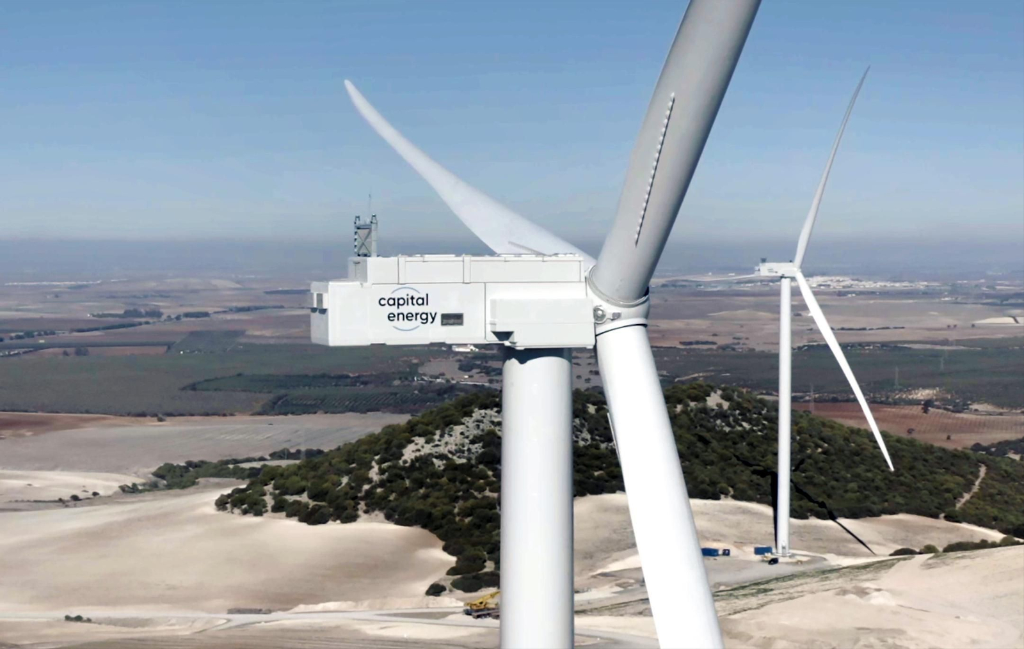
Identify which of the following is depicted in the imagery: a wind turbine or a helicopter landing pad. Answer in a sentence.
This aerial view contains a wind turbine.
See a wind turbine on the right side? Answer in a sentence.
Yes, a wind turbine appears on the right side.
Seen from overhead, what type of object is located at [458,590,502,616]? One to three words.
crane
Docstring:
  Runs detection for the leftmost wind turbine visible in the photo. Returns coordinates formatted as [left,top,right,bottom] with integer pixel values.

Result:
[304,0,760,649]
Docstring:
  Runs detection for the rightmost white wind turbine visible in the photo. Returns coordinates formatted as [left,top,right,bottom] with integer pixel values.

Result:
[684,64,893,556]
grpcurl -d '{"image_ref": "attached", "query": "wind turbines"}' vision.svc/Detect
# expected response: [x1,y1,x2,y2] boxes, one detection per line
[304,0,760,649]
[684,64,893,556]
